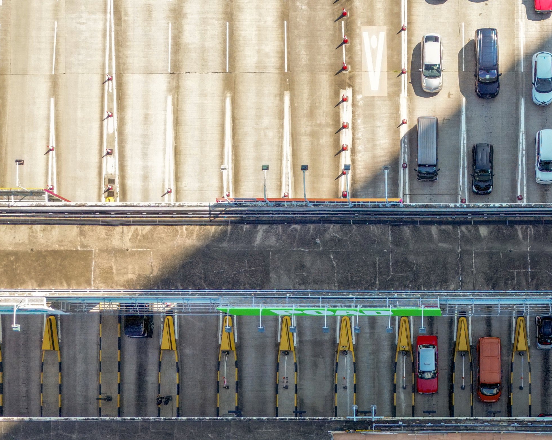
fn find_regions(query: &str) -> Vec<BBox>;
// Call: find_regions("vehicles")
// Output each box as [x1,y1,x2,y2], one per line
[533,0,552,16]
[415,119,440,180]
[531,53,552,105]
[475,339,503,402]
[534,316,552,351]
[474,32,501,96]
[419,35,445,93]
[126,309,154,340]
[471,141,495,197]
[534,131,552,183]
[414,336,440,394]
